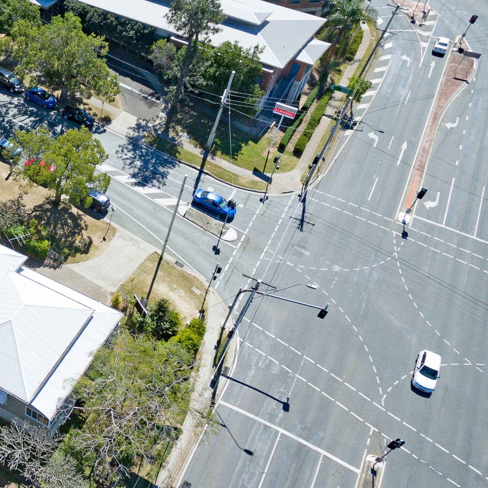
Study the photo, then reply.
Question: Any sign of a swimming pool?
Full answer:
No, there is no swimming pool in the image.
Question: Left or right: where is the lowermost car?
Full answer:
It is on the right.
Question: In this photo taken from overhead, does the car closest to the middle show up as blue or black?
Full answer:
The color of the car closest to the middle is blue.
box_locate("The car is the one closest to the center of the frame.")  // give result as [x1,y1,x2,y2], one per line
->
[192,190,236,219]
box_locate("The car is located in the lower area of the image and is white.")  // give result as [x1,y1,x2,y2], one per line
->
[409,349,445,397]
